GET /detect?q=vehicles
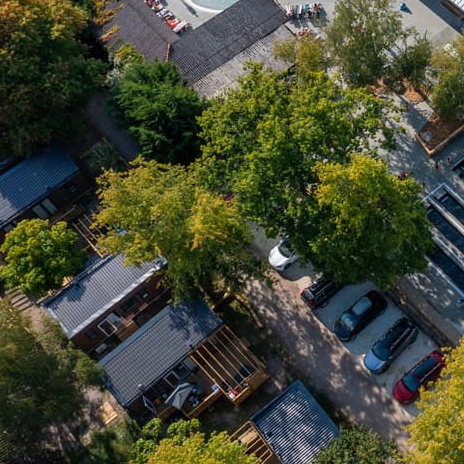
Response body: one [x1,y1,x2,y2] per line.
[361,311,420,371]
[295,261,351,311]
[331,285,390,341]
[265,219,312,263]
[391,343,451,404]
